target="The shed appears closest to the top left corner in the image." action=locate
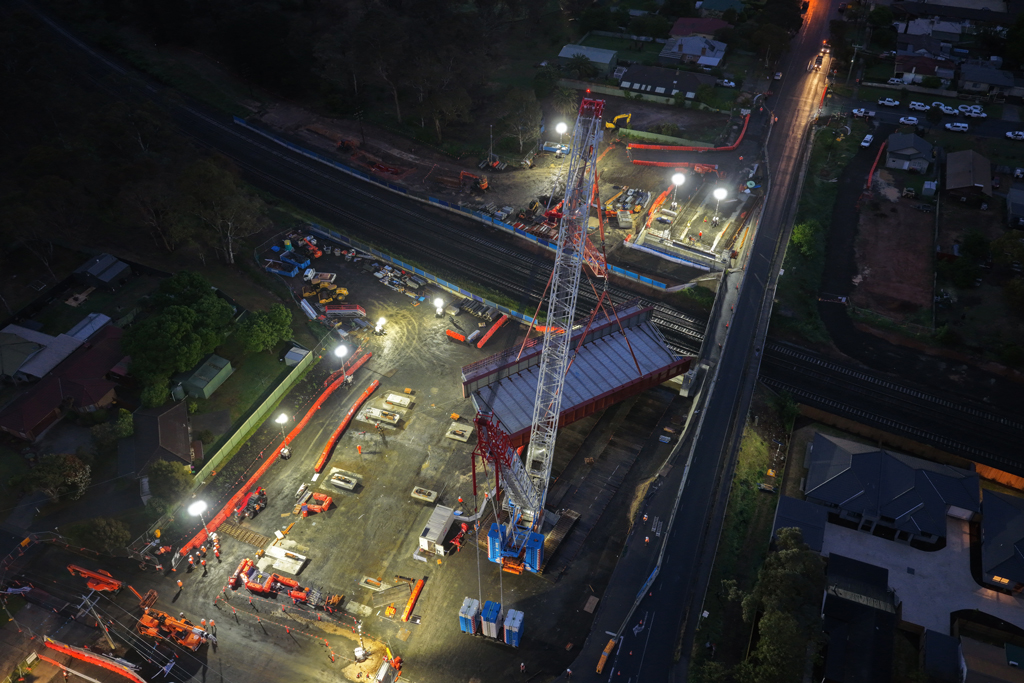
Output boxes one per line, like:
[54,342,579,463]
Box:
[76,253,132,296]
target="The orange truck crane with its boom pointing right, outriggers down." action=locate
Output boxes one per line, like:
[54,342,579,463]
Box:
[122,593,211,655]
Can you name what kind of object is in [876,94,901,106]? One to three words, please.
vehicle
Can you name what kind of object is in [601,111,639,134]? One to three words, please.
work vehicle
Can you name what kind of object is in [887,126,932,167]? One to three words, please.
house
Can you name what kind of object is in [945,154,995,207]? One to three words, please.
house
